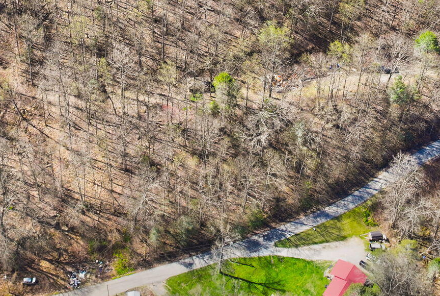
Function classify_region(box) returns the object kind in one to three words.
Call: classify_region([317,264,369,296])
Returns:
house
